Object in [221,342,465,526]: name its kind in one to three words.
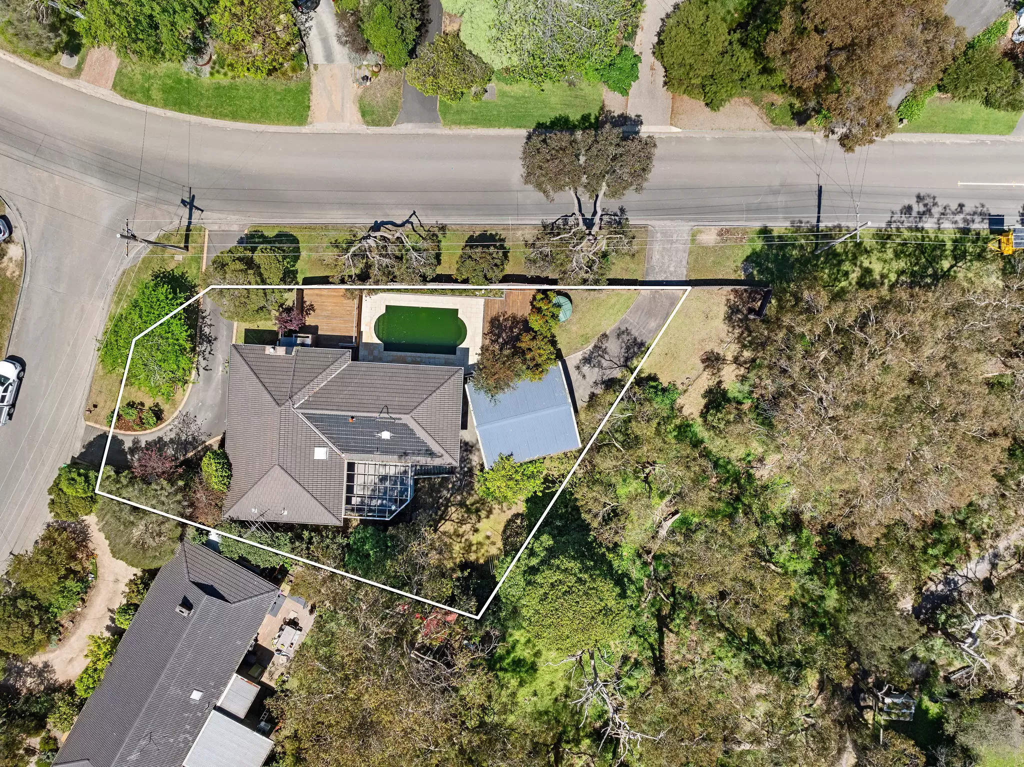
house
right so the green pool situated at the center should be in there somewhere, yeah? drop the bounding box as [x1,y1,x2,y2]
[373,304,467,355]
